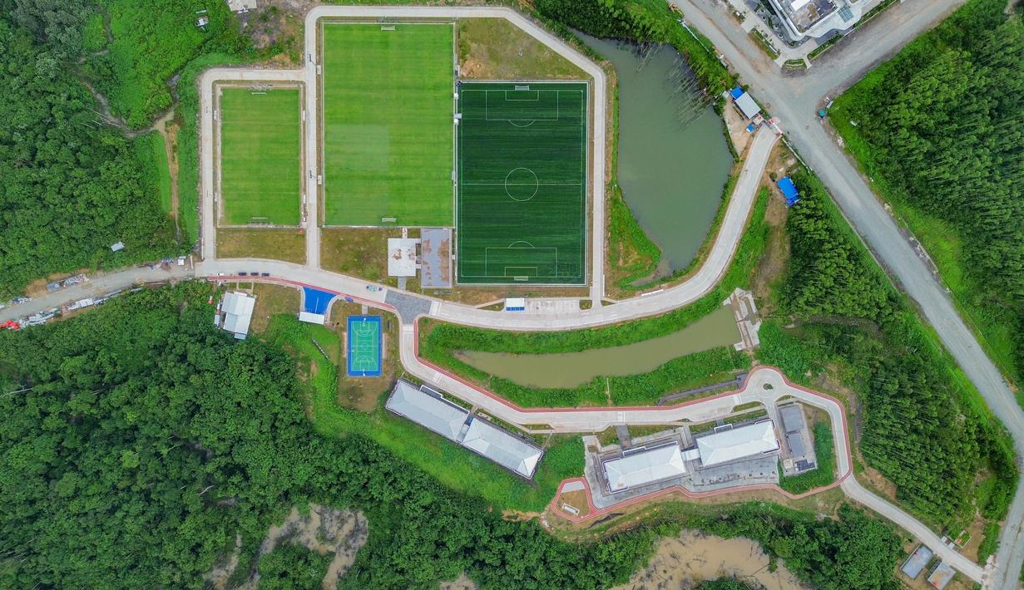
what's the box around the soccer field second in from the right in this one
[323,22,455,227]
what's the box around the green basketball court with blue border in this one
[347,315,382,377]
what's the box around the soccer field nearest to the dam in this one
[454,79,591,287]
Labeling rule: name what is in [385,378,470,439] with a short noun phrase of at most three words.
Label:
house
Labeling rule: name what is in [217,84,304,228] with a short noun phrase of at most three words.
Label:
soccer field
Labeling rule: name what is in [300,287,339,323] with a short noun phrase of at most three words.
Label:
sports court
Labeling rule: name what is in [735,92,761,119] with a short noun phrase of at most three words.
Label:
building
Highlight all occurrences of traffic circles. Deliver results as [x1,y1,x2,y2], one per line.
[749,370,787,405]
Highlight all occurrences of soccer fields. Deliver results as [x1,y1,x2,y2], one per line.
[454,79,591,287]
[217,84,304,228]
[323,22,455,227]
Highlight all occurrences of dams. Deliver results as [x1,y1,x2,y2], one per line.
[724,288,760,350]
